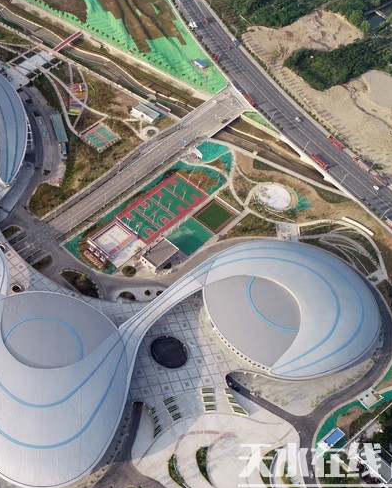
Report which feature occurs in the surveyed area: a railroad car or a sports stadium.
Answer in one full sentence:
Visible in the photo is a sports stadium.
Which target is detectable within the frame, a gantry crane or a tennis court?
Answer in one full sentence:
It is a tennis court that can be seen here.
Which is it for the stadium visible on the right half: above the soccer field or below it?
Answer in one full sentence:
The stadium visible on the right half is located below the soccer field in this view.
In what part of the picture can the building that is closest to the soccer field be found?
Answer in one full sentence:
The building that is closest to the soccer field sits in the center section of the image.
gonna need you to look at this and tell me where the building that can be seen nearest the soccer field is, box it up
[141,238,180,272]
